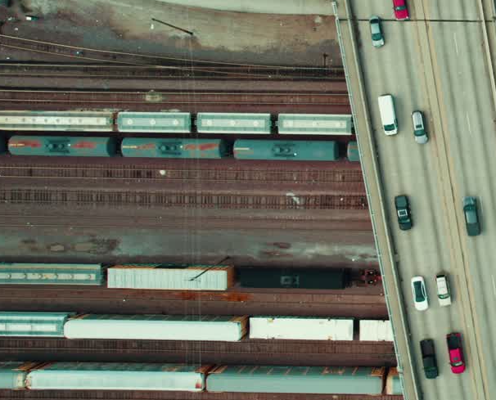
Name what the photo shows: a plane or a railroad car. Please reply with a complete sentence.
Of the two, only a railroad car appears.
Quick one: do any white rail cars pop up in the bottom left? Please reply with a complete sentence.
Yes, a white rail car can be seen in the bottom left.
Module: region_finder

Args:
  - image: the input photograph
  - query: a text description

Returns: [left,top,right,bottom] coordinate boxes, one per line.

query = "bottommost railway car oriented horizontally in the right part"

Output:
[208,363,389,394]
